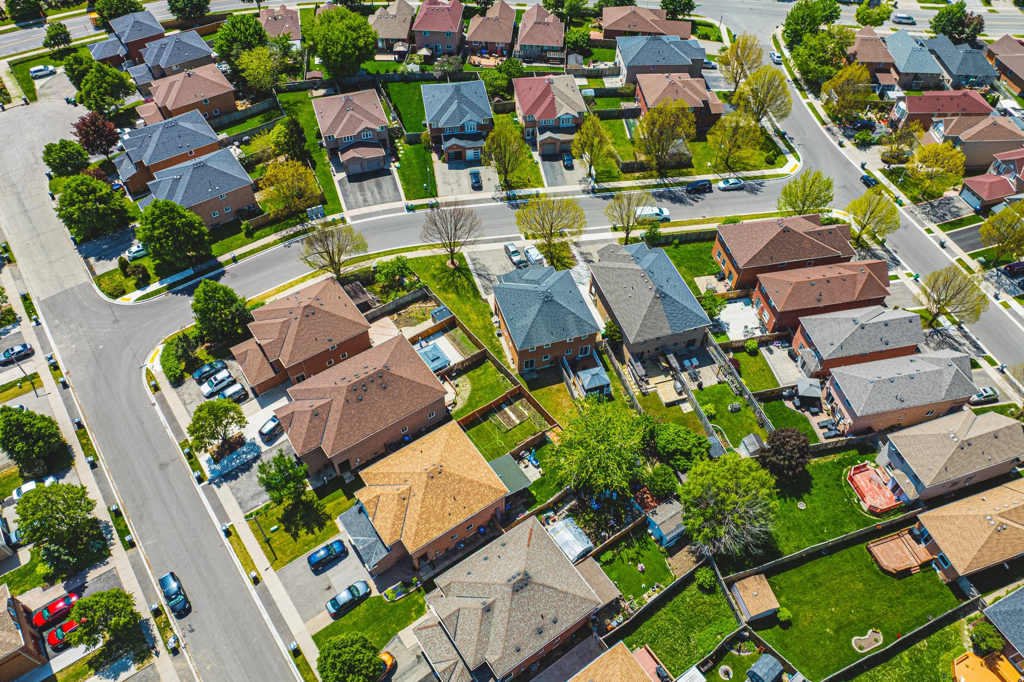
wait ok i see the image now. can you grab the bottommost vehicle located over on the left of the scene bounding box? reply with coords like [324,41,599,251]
[367,655,400,682]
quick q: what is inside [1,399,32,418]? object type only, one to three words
car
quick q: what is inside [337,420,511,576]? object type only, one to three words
house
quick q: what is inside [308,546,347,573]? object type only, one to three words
car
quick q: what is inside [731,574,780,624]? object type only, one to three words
shed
